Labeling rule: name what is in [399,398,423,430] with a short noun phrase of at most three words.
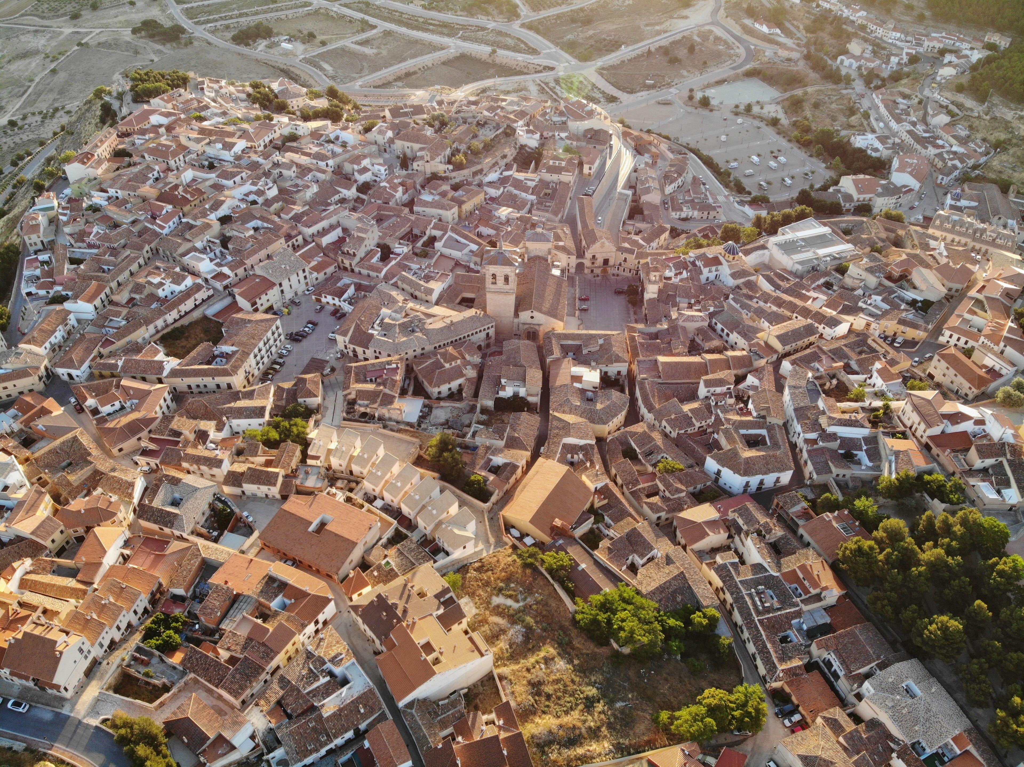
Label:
house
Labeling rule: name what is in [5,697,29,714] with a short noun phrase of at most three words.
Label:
car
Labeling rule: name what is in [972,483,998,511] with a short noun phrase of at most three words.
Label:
house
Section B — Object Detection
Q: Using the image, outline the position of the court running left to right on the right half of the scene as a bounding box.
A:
[697,77,780,106]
